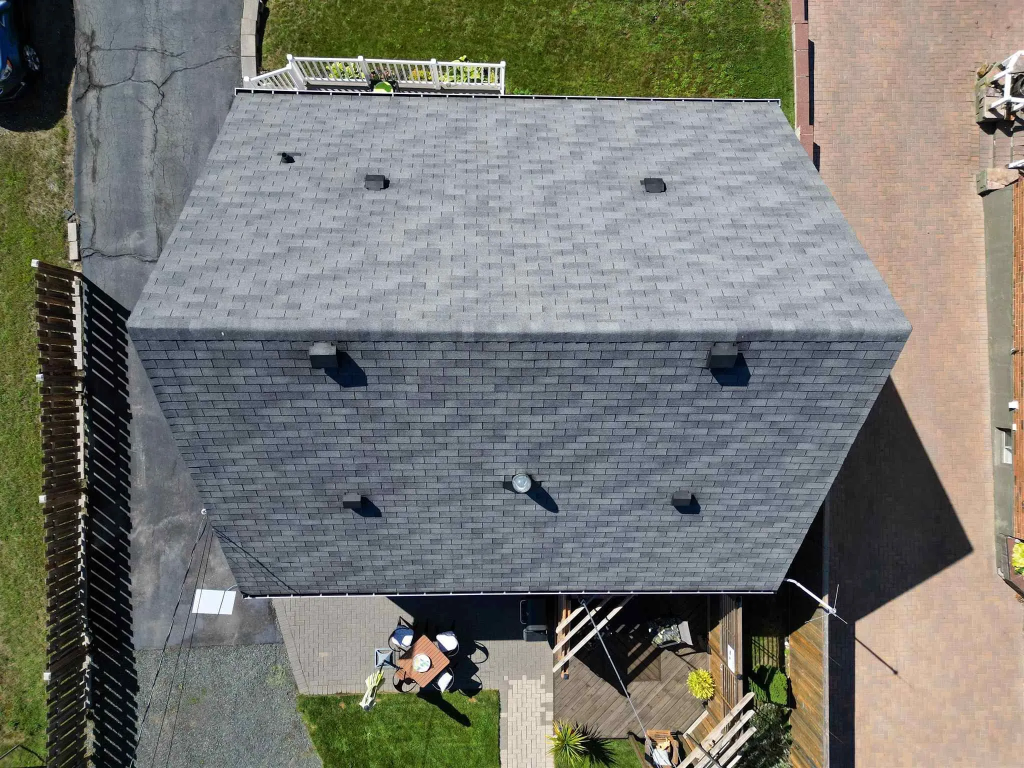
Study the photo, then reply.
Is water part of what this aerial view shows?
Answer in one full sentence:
No, there's no water in this view.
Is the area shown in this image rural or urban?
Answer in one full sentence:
The area shown here is urban.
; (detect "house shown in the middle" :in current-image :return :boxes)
[125,88,913,600]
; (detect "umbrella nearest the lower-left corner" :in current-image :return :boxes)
[361,650,393,709]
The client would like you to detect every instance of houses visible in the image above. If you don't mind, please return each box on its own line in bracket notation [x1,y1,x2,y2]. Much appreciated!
[125,88,913,600]
[984,158,1024,544]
